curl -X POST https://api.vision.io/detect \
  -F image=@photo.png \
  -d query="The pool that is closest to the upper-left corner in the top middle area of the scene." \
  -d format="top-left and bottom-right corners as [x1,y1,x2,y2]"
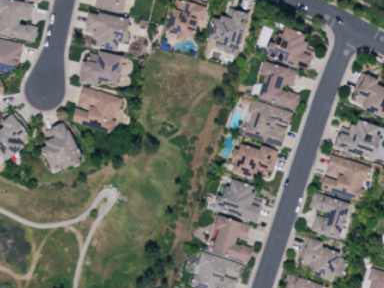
[174,40,196,52]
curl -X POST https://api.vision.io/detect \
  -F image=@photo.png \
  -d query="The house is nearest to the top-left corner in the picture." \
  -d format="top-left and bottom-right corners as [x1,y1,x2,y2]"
[0,0,38,40]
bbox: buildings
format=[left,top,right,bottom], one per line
[242,100,294,146]
[0,0,38,40]
[0,114,30,158]
[355,72,384,115]
[233,142,278,177]
[86,11,130,50]
[268,28,314,68]
[209,7,250,51]
[284,274,325,288]
[334,120,384,161]
[42,122,82,172]
[213,214,254,262]
[166,0,209,39]
[322,155,372,200]
[0,38,23,72]
[300,237,348,282]
[72,86,123,129]
[258,25,274,49]
[216,179,263,221]
[194,252,244,288]
[96,0,126,12]
[311,192,355,238]
[80,52,122,86]
[259,61,300,110]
